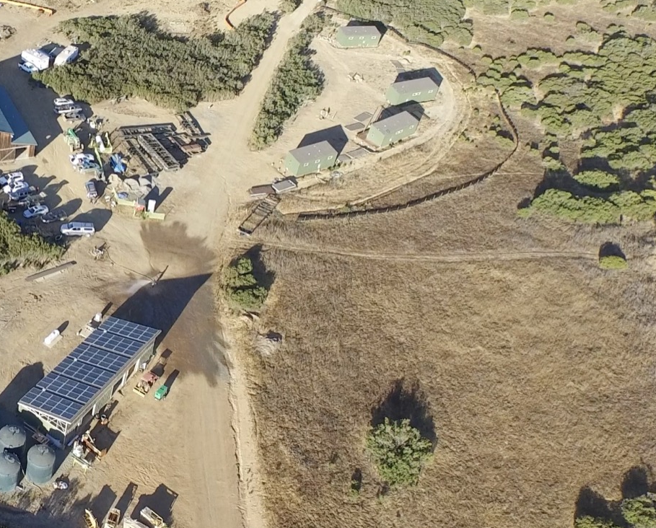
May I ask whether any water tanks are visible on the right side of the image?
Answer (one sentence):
No, no water tank is visible on the right side of the image.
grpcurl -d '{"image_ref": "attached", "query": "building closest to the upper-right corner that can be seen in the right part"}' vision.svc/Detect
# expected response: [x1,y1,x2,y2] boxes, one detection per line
[381,79,438,105]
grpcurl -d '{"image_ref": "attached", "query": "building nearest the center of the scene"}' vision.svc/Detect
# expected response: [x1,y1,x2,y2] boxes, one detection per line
[275,140,342,176]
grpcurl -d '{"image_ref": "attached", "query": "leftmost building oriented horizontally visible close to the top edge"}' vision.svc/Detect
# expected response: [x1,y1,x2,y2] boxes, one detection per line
[329,26,383,47]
